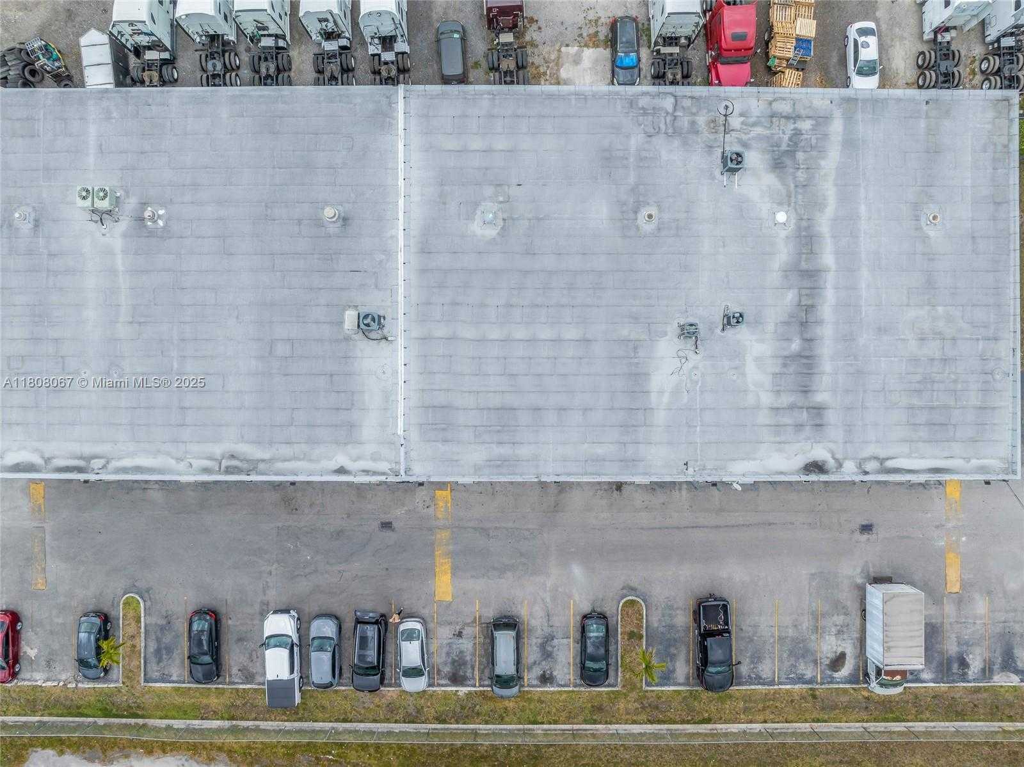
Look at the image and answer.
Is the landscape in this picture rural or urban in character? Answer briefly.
urban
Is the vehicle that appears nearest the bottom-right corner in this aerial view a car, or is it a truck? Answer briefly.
truck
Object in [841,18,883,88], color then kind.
white car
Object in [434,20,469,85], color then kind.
gray car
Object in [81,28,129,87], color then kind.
white trailer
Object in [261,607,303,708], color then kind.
white truck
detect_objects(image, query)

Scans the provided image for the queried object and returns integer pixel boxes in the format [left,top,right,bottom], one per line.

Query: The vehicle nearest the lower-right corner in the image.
[860,571,925,693]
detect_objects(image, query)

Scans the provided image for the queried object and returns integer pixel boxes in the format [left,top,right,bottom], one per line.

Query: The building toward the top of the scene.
[0,82,1021,483]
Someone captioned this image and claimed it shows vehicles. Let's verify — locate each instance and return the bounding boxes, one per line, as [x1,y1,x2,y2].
[860,571,925,693]
[841,18,883,88]
[488,0,528,86]
[578,610,613,686]
[651,0,704,87]
[301,0,355,85]
[914,0,993,88]
[395,614,431,692]
[349,614,387,696]
[360,0,410,85]
[0,610,26,684]
[434,20,469,85]
[261,607,303,708]
[707,0,763,87]
[306,613,343,689]
[696,586,737,691]
[106,0,179,86]
[234,0,294,86]
[177,0,242,86]
[607,13,643,86]
[73,610,113,678]
[487,613,523,697]
[976,0,1024,94]
[184,607,224,682]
